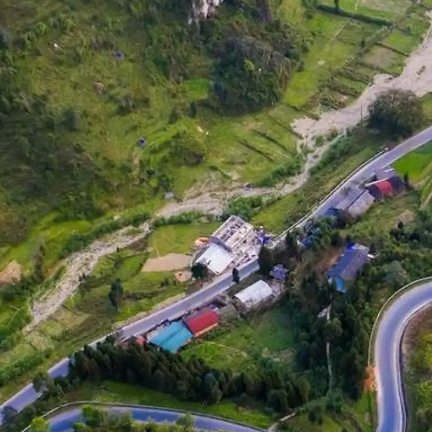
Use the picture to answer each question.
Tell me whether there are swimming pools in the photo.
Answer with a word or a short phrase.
No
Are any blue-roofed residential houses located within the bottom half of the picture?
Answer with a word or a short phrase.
Yes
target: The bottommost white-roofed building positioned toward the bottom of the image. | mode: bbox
[234,281,273,309]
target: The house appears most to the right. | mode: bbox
[366,176,406,201]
